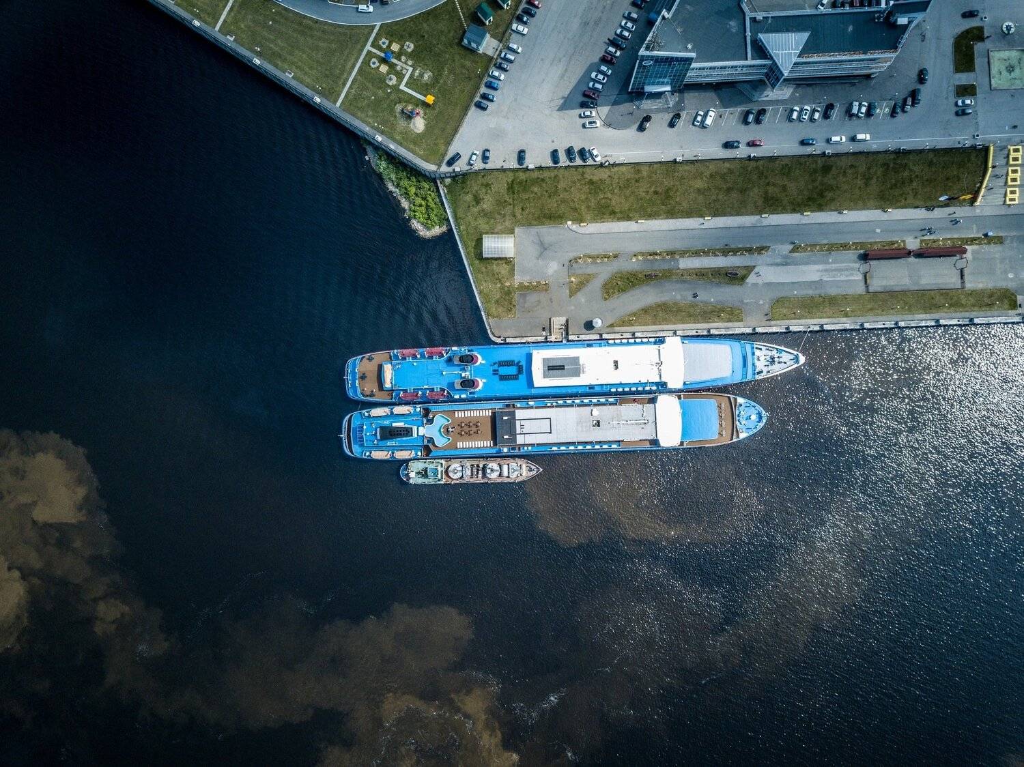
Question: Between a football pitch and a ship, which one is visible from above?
ship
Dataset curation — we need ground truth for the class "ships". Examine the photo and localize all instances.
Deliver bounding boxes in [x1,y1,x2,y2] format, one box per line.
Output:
[342,336,807,403]
[338,393,771,461]
[400,458,543,485]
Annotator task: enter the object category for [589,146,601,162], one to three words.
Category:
vehicle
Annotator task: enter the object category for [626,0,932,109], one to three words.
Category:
building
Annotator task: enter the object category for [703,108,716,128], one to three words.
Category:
vehicle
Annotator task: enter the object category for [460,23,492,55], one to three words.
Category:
house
